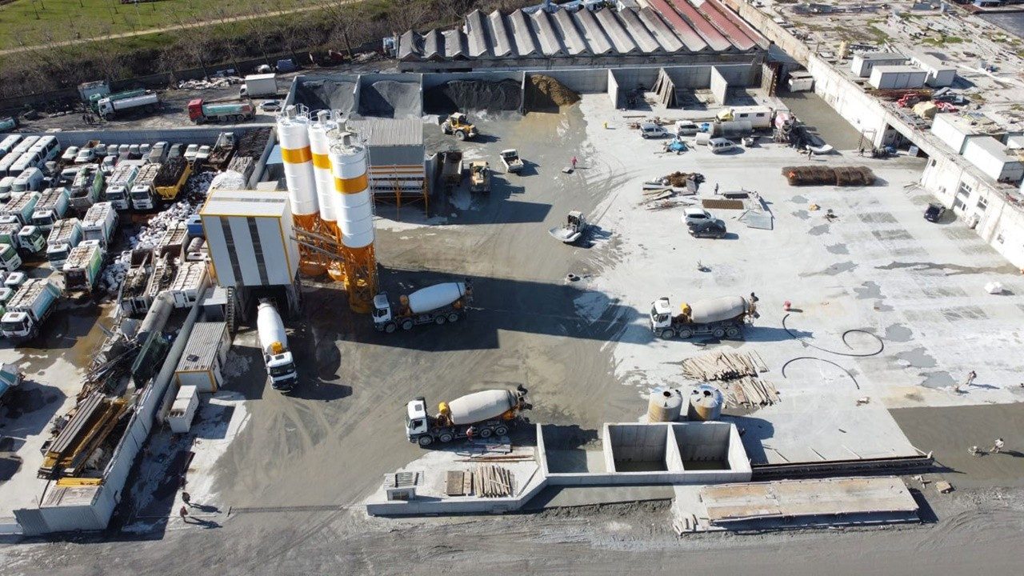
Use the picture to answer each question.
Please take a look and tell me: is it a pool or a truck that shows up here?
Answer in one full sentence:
I can see a truck in this picture.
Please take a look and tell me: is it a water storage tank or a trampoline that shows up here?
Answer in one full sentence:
It is a water storage tank that can be seen here.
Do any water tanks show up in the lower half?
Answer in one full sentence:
Yes, a water tank shows up in the lower half.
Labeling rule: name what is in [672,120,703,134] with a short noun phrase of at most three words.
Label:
car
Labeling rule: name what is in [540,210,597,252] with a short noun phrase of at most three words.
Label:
work vehicle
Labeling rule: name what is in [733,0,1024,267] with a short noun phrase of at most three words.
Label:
building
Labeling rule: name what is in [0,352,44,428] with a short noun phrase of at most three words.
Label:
truck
